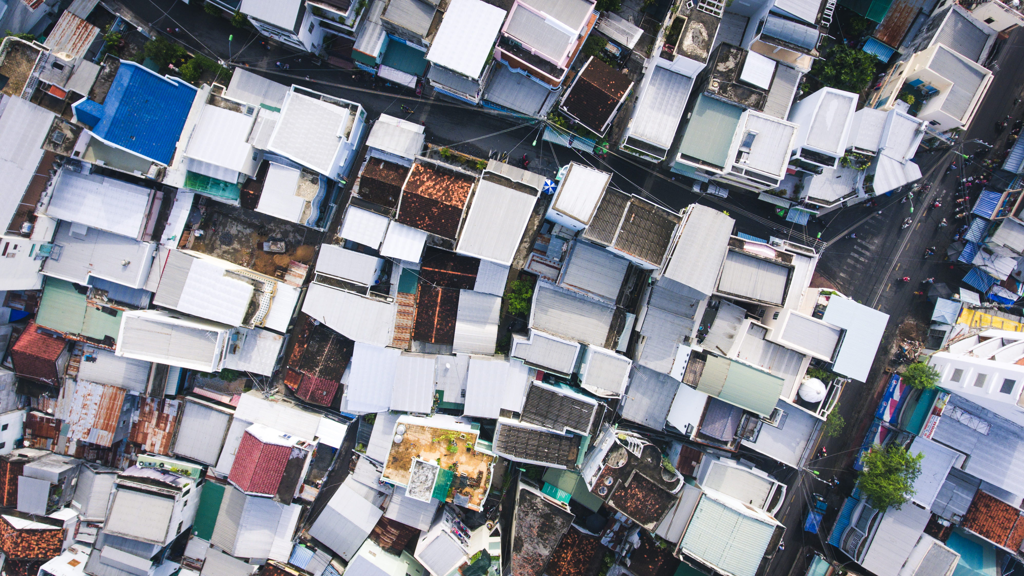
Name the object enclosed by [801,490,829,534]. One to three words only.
truck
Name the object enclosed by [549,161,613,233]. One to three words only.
house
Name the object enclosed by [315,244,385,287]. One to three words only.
house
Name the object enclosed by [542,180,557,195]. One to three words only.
umbrella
